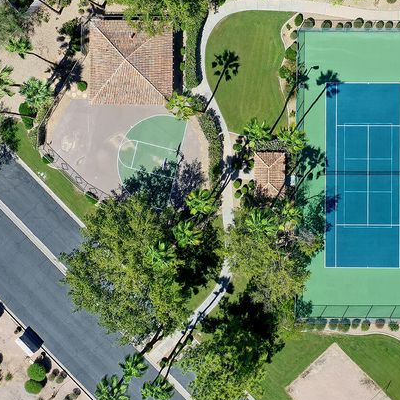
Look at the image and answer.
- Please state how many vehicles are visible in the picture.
0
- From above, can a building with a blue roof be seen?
No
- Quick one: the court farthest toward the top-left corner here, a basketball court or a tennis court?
basketball court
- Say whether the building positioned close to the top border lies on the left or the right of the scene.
left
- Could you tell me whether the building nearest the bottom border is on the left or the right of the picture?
right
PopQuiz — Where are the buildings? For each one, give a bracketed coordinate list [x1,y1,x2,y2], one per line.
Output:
[89,19,174,106]
[253,151,286,196]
